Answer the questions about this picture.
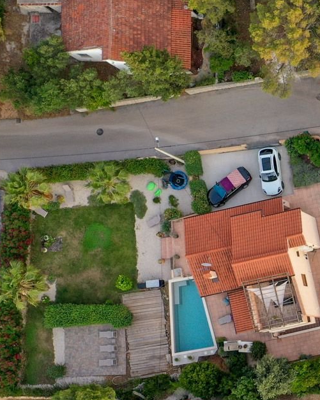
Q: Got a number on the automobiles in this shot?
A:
2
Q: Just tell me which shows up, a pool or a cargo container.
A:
pool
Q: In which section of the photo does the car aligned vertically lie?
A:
right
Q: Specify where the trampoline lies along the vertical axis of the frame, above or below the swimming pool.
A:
above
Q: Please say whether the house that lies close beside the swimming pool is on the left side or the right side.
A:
right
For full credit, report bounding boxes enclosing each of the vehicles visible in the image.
[208,165,254,205]
[258,149,284,197]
